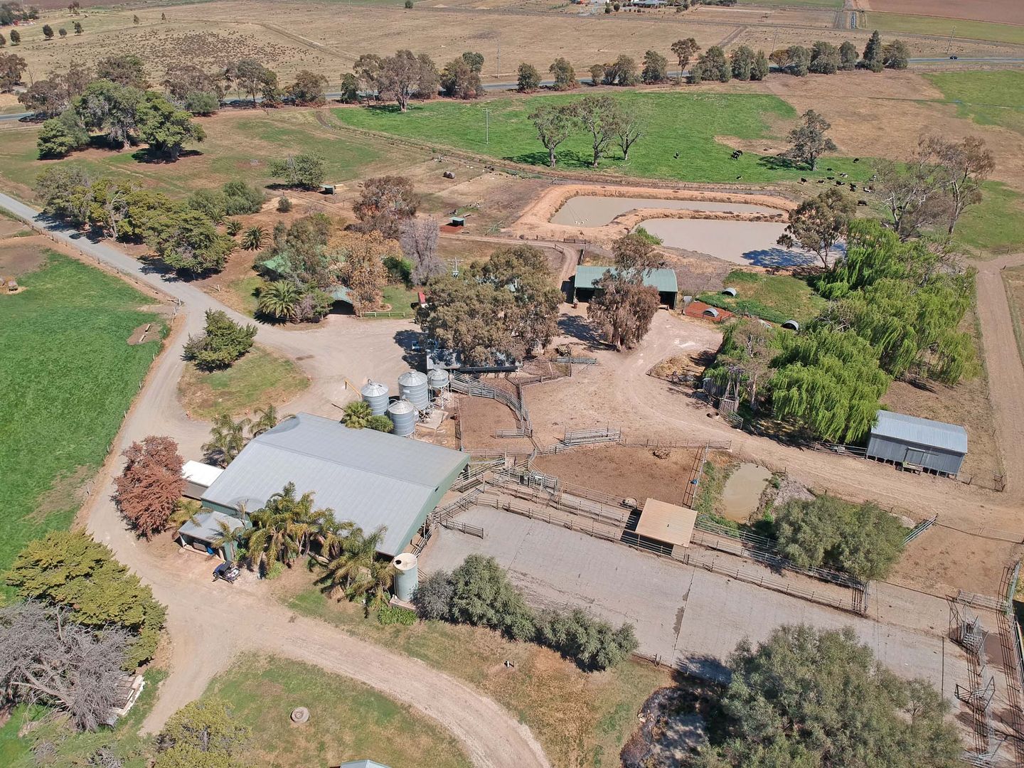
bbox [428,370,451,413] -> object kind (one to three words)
silo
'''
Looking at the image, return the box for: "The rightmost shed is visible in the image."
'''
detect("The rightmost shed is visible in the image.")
[864,408,969,480]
